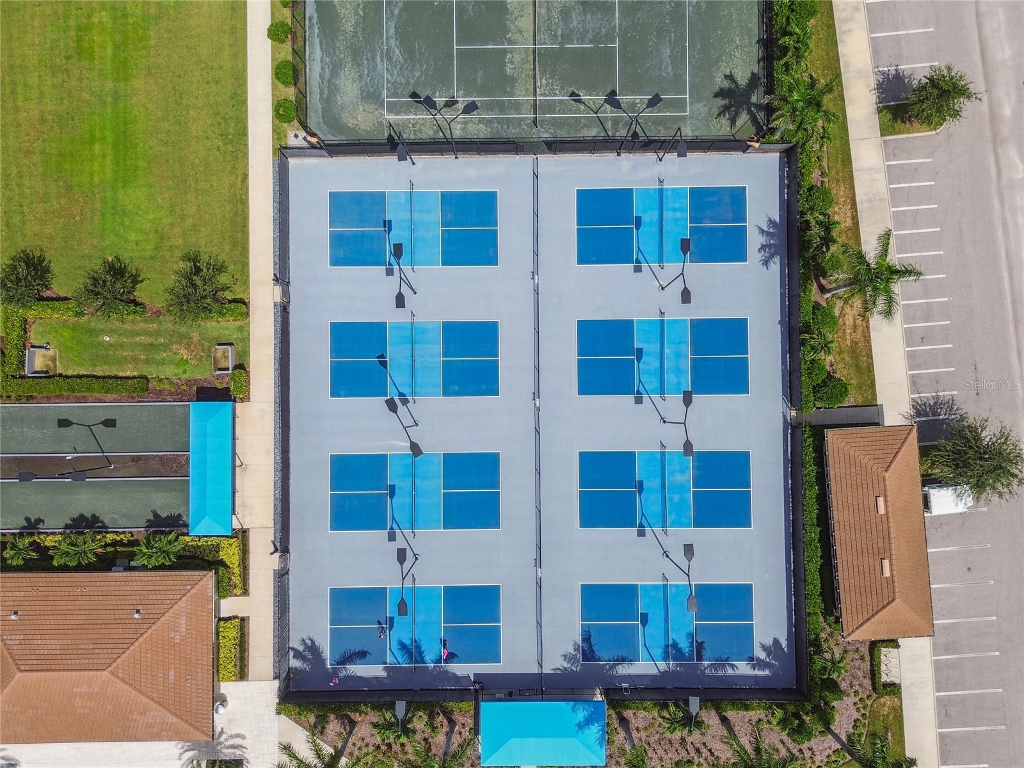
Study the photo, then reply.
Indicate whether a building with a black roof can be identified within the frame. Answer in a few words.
No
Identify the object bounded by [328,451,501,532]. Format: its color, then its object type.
blue sports court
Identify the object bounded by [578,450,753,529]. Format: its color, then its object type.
blue sports court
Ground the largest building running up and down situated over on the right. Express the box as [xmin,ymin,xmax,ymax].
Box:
[825,423,934,642]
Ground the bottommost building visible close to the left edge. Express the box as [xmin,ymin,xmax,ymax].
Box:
[0,569,220,744]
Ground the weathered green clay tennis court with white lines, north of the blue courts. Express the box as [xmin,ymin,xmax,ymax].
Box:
[306,0,759,157]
